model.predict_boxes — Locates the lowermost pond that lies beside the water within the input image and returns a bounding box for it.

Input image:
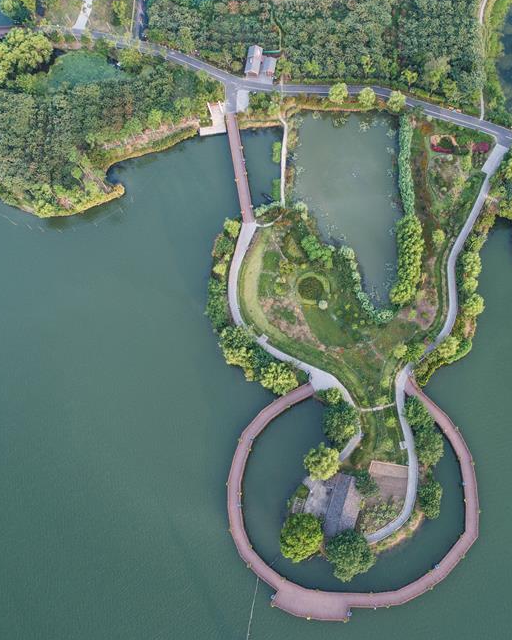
[289,110,401,304]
